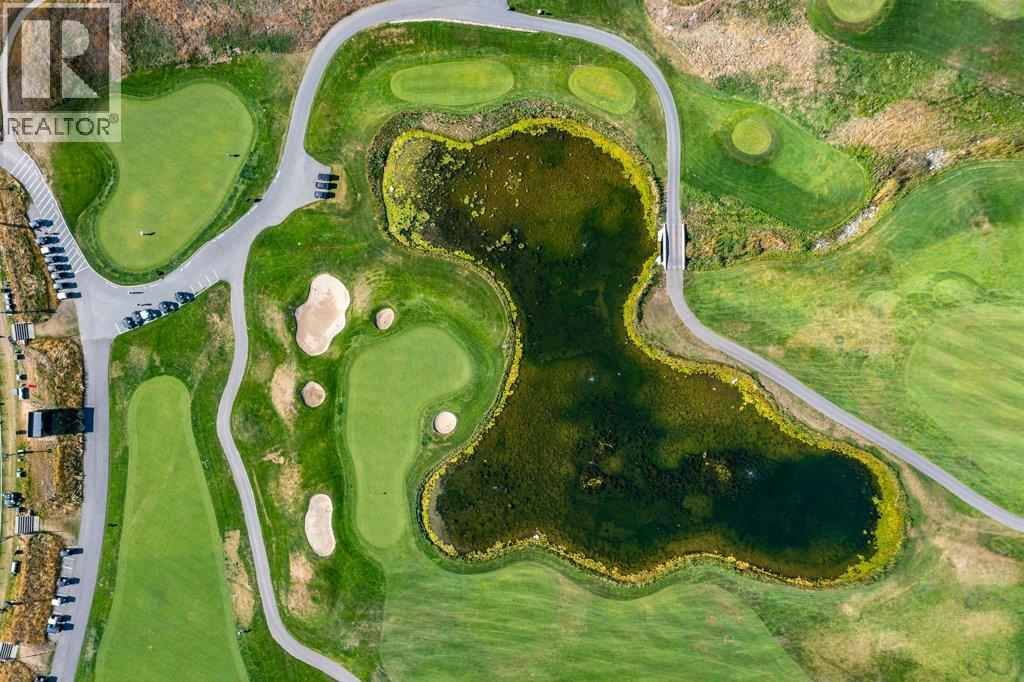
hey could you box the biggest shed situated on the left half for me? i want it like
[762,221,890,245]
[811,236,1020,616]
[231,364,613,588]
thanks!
[27,409,62,438]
